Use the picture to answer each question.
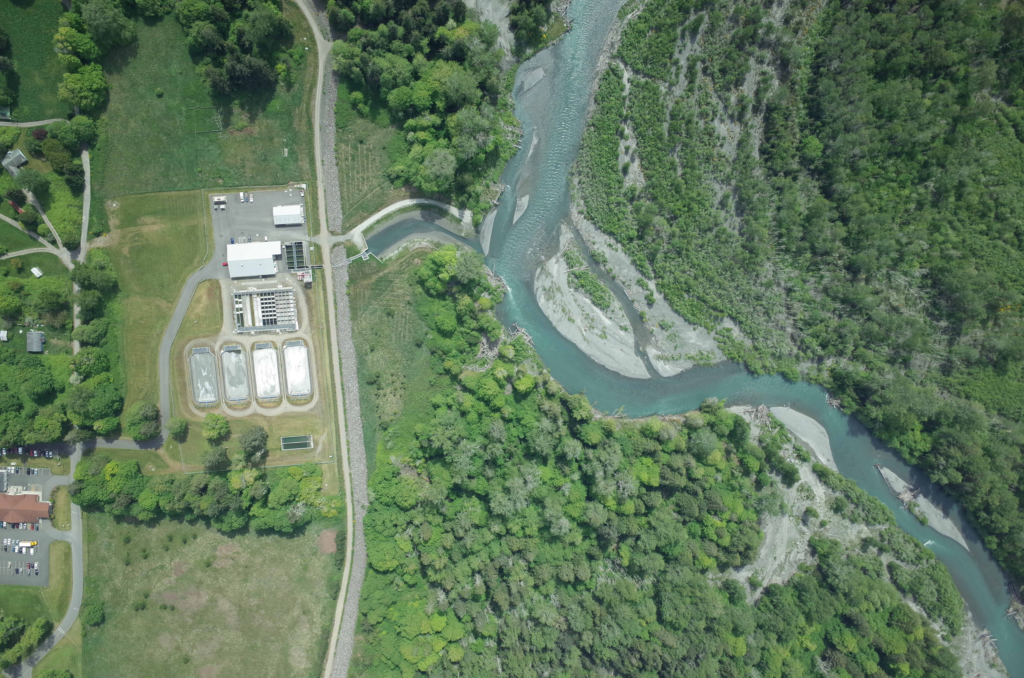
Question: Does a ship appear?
No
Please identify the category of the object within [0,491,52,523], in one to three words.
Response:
building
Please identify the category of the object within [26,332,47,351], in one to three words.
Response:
house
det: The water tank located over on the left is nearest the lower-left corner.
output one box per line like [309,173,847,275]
[280,435,314,451]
